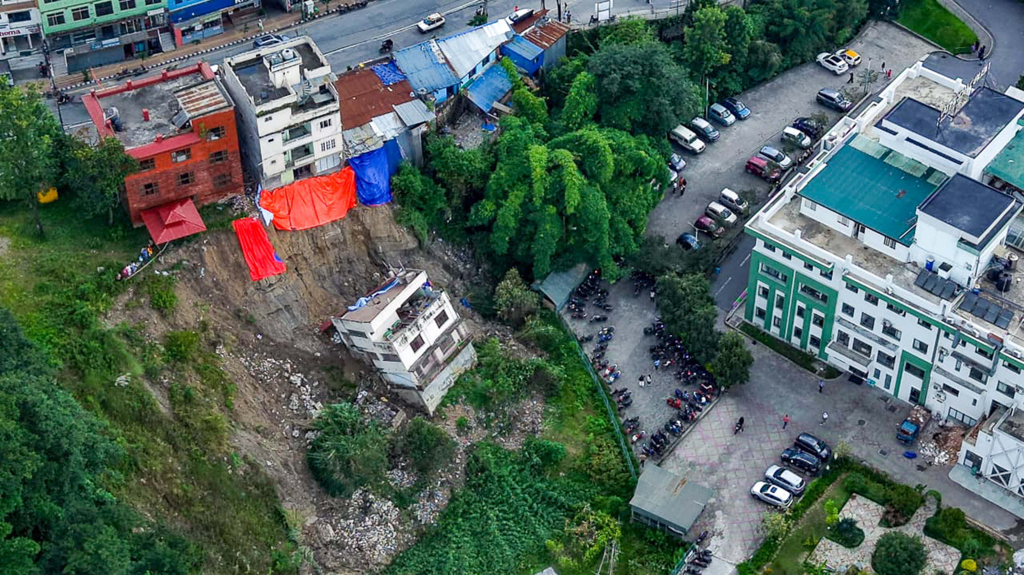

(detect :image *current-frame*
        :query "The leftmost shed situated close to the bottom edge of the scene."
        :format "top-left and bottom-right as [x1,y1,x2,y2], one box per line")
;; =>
[630,461,712,547]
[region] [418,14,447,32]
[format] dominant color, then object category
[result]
white car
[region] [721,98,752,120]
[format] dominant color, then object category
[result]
blue car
